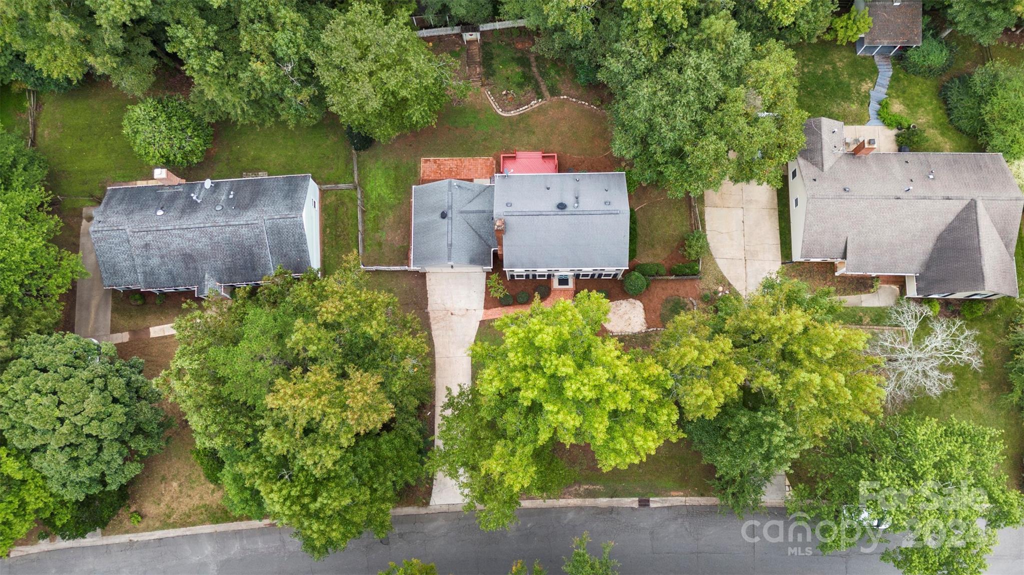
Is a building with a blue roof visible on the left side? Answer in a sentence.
No, I see no building with a blue roof on the left side.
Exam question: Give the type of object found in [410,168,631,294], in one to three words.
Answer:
house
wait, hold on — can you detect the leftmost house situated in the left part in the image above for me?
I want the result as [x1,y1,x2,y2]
[90,168,324,296]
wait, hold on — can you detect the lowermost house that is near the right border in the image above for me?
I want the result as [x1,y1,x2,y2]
[782,117,1024,302]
